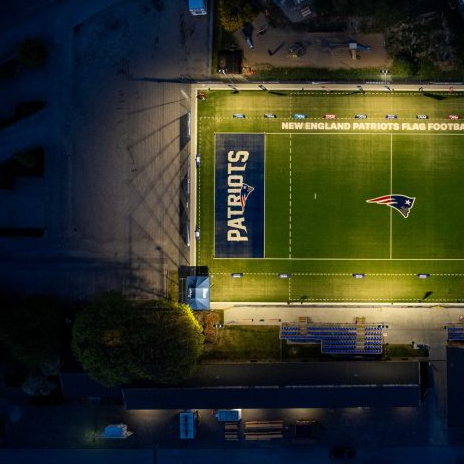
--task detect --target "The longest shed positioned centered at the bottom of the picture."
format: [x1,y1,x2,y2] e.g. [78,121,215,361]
[119,361,427,408]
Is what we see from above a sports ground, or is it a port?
sports ground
